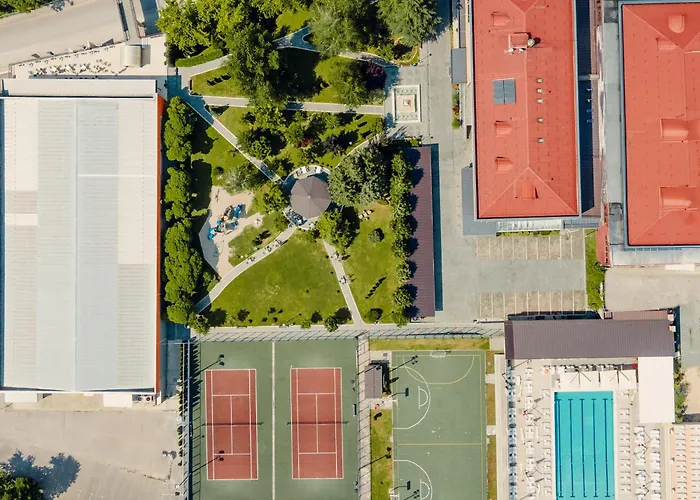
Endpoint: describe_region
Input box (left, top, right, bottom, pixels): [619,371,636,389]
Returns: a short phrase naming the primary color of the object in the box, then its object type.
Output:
white umbrella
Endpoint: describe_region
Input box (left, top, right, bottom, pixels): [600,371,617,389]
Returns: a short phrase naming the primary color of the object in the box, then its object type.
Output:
white umbrella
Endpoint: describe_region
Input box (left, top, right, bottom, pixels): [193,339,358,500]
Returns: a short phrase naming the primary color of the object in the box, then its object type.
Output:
green tennis court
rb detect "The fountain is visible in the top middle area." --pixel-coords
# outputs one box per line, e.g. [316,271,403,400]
[394,83,421,122]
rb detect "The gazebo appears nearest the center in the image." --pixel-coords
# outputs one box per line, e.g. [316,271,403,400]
[289,176,331,219]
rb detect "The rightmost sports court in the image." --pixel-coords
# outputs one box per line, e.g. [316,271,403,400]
[392,351,488,500]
